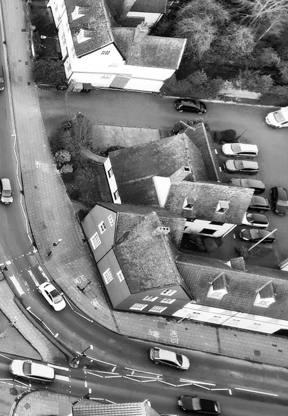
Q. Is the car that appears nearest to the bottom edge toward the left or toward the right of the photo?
right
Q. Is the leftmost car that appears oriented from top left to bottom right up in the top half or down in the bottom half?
bottom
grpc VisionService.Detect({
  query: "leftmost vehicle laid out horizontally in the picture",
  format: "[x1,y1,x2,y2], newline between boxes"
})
[10,358,56,382]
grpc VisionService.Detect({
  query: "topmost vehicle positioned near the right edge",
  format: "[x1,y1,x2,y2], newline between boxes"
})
[264,110,288,128]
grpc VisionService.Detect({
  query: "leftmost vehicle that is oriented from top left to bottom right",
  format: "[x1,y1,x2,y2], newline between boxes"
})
[31,277,72,315]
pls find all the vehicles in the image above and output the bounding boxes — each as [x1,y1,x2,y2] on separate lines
[148,345,192,372]
[248,196,277,213]
[269,182,288,218]
[176,392,225,416]
[10,358,56,382]
[243,211,274,229]
[264,110,288,128]
[230,175,270,194]
[219,141,262,159]
[31,277,72,315]
[224,157,262,176]
[236,226,281,245]
[0,174,17,208]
